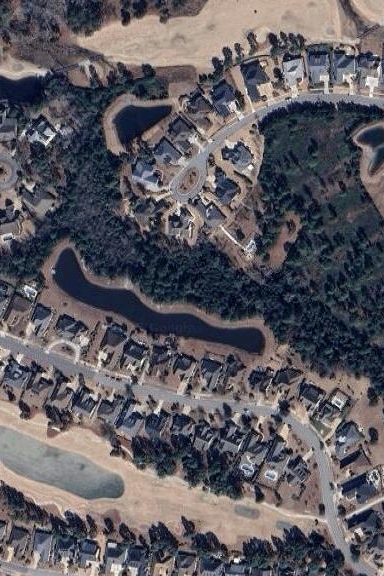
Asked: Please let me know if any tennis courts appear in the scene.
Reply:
No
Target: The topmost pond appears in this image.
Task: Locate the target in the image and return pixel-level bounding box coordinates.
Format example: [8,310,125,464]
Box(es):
[0,71,48,109]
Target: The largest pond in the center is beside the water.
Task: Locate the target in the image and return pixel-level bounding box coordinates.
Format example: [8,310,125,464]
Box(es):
[50,244,267,357]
